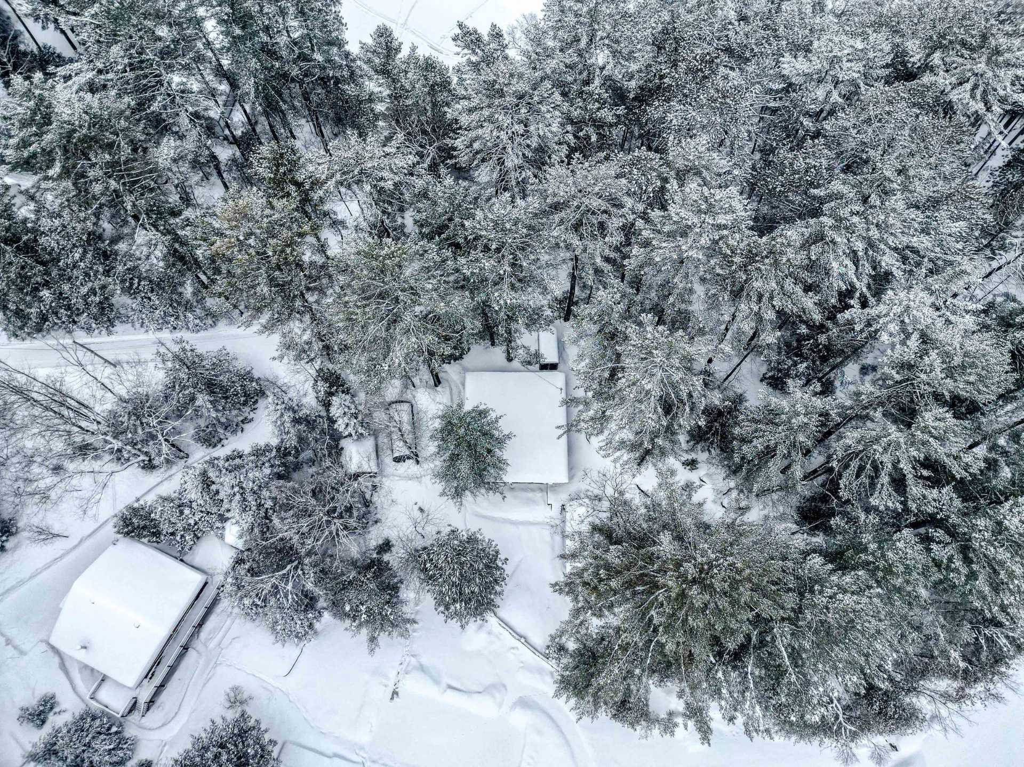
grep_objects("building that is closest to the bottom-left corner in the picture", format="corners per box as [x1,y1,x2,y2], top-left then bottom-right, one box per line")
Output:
[48,535,205,692]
